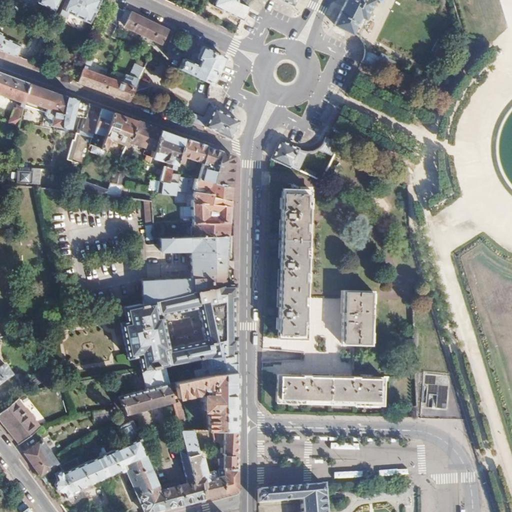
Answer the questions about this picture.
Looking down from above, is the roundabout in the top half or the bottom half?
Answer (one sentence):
You can find the roundabout in the top half.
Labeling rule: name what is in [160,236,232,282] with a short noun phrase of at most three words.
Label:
building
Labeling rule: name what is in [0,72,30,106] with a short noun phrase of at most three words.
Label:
house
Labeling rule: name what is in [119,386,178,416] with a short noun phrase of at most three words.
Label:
house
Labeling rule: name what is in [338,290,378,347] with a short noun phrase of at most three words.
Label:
building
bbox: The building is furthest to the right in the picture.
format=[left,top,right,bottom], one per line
[422,373,449,410]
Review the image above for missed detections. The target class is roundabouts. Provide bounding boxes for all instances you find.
[225,0,352,160]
